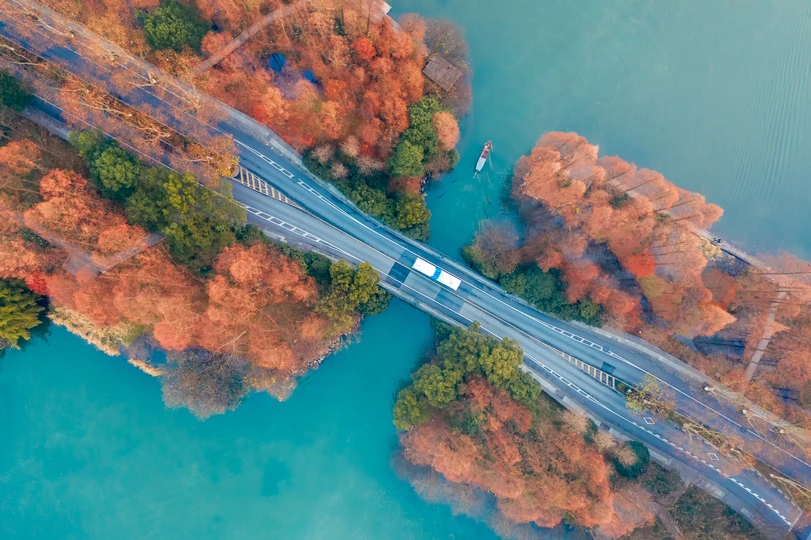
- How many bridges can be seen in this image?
one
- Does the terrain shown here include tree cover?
Yes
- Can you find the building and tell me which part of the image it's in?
top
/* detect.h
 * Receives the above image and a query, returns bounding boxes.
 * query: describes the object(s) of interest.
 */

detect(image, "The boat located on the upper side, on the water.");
[473,140,491,179]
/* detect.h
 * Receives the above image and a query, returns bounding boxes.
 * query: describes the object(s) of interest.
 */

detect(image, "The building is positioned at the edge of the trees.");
[424,54,462,95]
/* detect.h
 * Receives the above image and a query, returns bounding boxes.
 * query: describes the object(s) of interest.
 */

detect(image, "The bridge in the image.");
[366,228,497,329]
